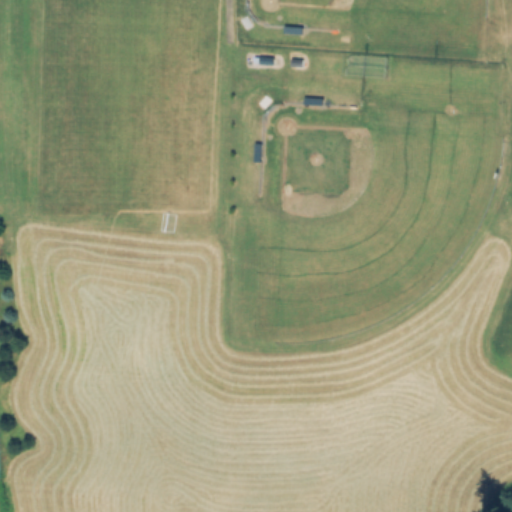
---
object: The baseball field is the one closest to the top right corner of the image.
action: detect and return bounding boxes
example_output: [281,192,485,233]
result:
[258,0,498,57]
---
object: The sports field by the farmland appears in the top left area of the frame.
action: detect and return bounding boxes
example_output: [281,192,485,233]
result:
[40,0,222,214]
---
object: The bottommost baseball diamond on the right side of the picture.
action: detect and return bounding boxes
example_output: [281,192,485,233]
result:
[241,100,503,343]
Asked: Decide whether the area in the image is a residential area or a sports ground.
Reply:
sports ground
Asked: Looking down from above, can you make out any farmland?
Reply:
Yes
